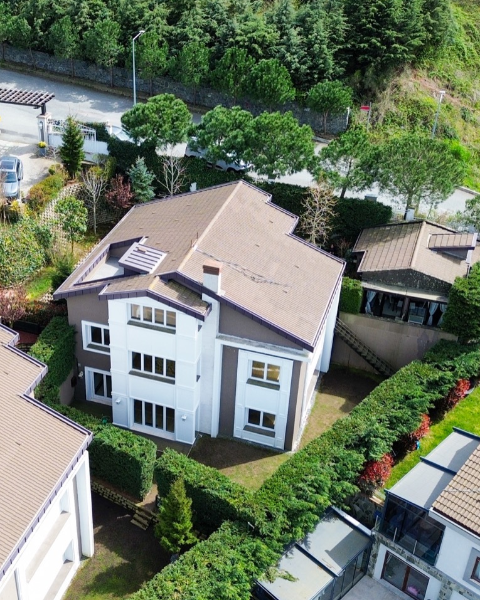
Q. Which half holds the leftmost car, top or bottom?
top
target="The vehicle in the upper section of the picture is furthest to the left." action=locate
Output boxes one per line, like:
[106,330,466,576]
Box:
[0,157,25,196]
